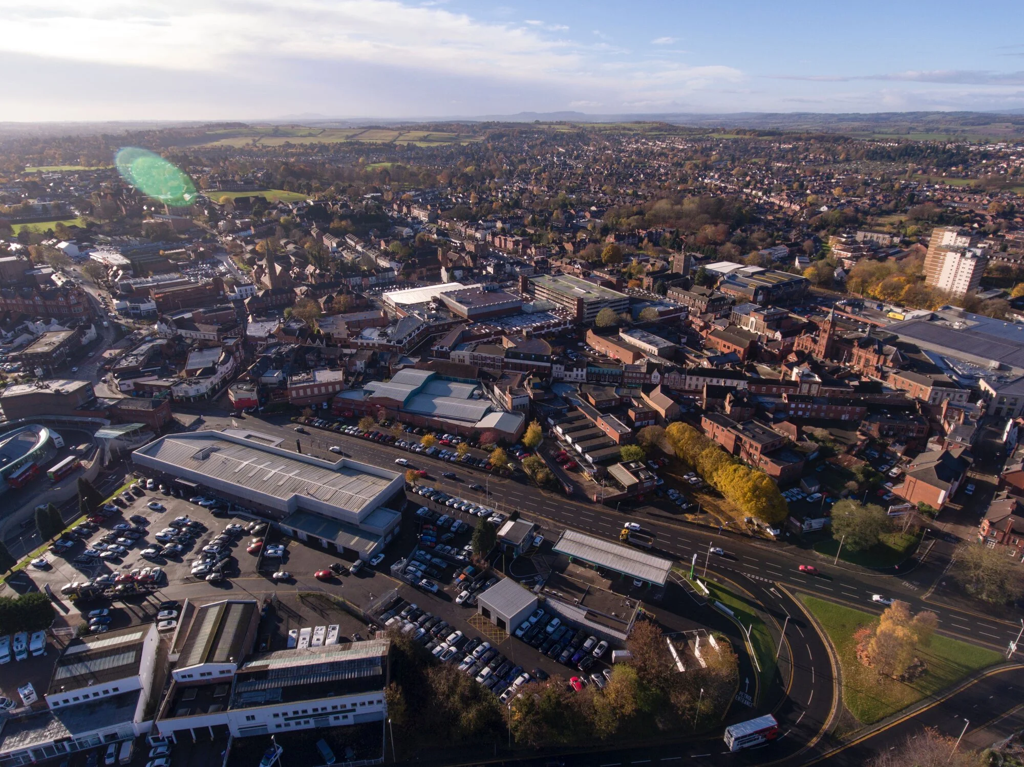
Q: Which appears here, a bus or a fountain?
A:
bus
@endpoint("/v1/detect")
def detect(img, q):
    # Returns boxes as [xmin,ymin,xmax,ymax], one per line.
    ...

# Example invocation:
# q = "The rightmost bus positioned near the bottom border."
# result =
[723,707,786,748]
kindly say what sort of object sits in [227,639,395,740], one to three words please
building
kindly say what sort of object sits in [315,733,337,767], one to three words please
vehicle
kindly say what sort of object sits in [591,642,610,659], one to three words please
car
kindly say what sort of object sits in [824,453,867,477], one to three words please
shed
